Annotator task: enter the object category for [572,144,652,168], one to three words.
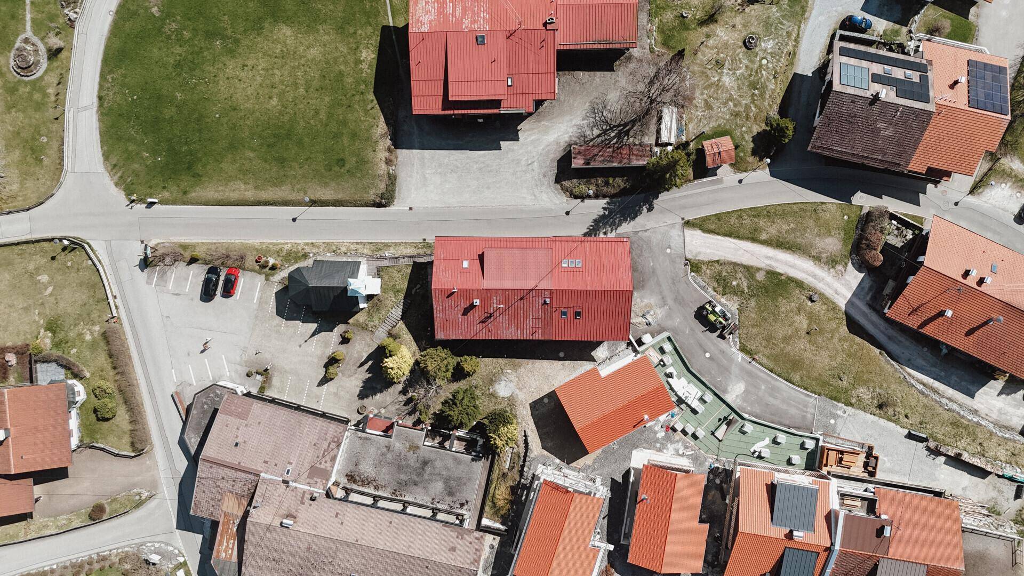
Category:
shed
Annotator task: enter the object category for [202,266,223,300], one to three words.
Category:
car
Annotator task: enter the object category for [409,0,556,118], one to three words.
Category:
house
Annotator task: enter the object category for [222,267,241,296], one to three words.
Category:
car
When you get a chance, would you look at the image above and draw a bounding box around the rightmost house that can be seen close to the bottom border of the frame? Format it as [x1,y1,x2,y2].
[833,486,965,576]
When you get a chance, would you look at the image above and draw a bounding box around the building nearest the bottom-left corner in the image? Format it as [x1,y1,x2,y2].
[0,473,44,516]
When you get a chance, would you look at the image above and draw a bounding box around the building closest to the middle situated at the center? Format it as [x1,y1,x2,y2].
[431,237,633,341]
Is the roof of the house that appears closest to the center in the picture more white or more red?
red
